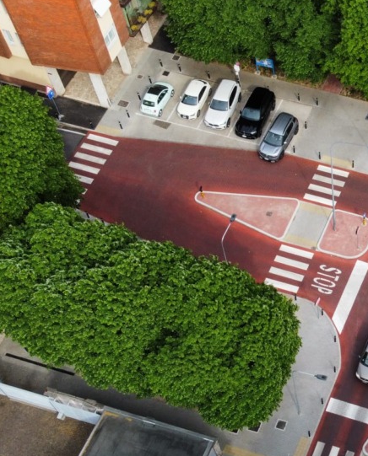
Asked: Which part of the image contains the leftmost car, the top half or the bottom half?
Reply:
top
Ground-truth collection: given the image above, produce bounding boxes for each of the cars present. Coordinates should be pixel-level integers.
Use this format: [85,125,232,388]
[262,112,296,160]
[238,86,274,136]
[355,335,368,385]
[177,77,212,121]
[206,78,239,127]
[140,80,176,117]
